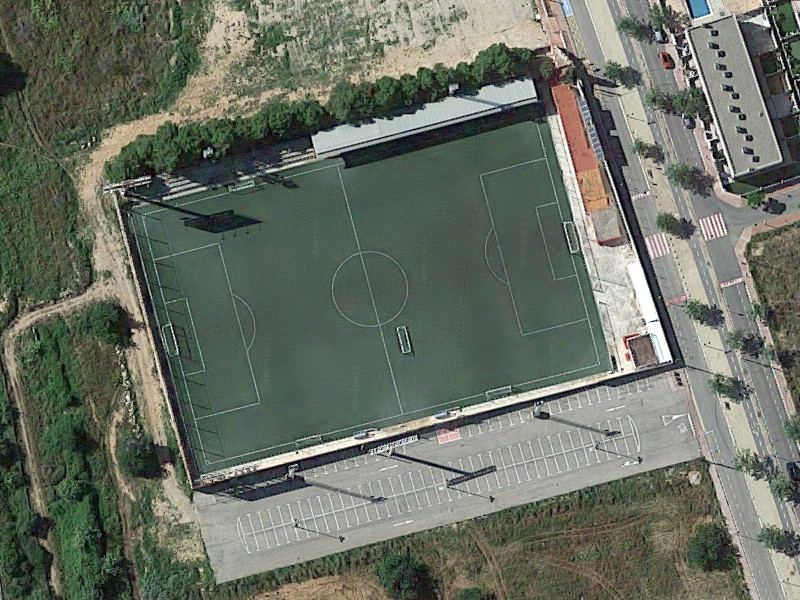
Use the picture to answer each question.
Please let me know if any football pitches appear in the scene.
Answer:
Yes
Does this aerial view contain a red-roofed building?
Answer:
Yes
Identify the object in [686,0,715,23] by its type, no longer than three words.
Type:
swimming pool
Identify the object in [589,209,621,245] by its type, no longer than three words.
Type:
building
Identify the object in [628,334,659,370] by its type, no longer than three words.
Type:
building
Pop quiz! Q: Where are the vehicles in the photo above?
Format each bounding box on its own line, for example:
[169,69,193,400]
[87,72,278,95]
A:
[652,26,664,44]
[788,460,799,479]
[662,51,673,69]
[683,112,694,130]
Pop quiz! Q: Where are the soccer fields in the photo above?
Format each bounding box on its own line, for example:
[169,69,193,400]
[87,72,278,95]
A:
[122,108,612,473]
